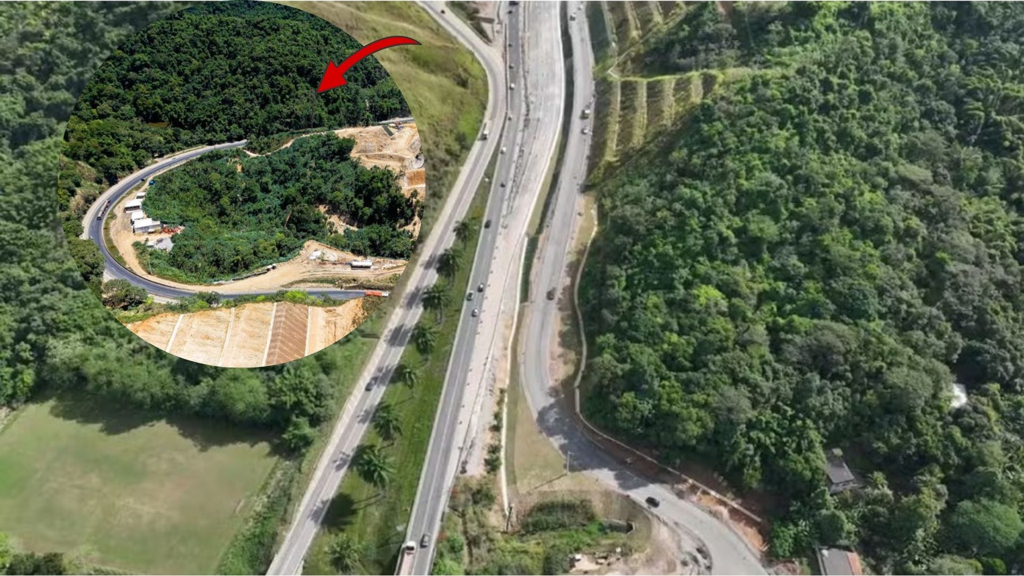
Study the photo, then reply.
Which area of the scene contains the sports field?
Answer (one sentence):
Look in the bottom left portion of the view to spot the sports field.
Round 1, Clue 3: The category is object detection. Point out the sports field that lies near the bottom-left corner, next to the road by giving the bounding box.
[0,397,282,576]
